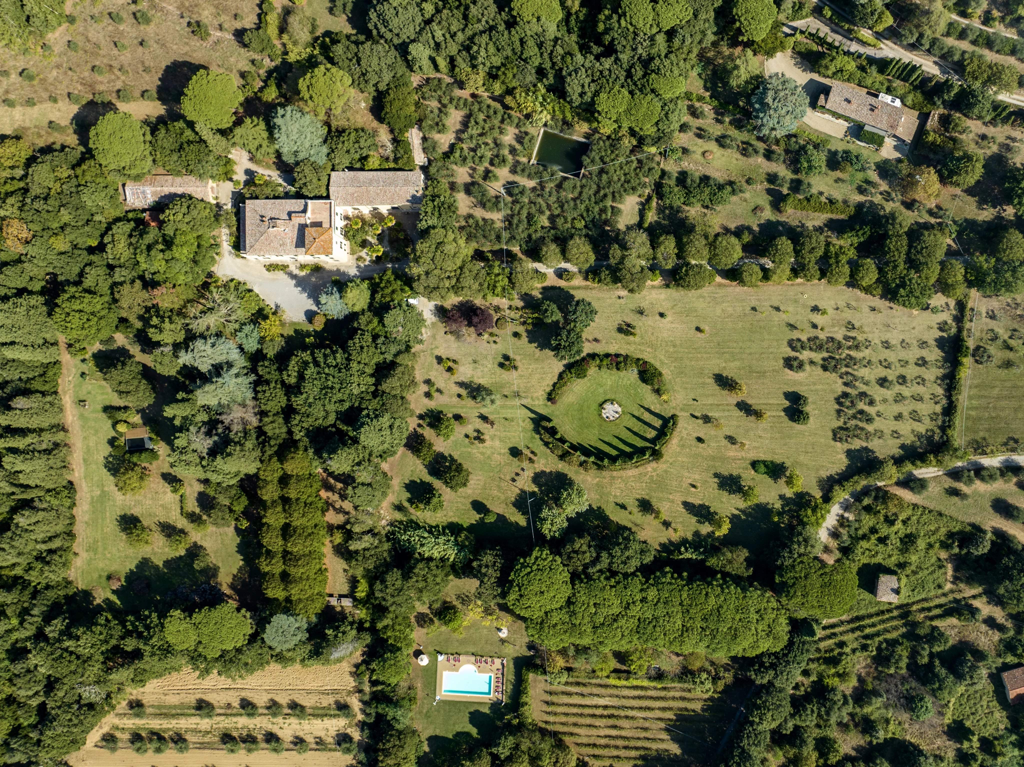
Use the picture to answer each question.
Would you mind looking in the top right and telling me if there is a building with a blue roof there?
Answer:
No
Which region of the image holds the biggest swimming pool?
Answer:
bottom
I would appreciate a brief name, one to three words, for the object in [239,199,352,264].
house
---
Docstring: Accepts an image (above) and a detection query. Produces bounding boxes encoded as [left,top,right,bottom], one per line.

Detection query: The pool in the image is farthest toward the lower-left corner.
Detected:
[437,653,507,705]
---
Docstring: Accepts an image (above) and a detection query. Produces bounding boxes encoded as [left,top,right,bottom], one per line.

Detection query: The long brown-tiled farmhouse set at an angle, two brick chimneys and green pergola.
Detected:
[816,82,919,145]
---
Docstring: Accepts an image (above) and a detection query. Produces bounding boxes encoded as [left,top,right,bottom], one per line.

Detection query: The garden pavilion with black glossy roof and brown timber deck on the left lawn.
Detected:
[126,423,158,452]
